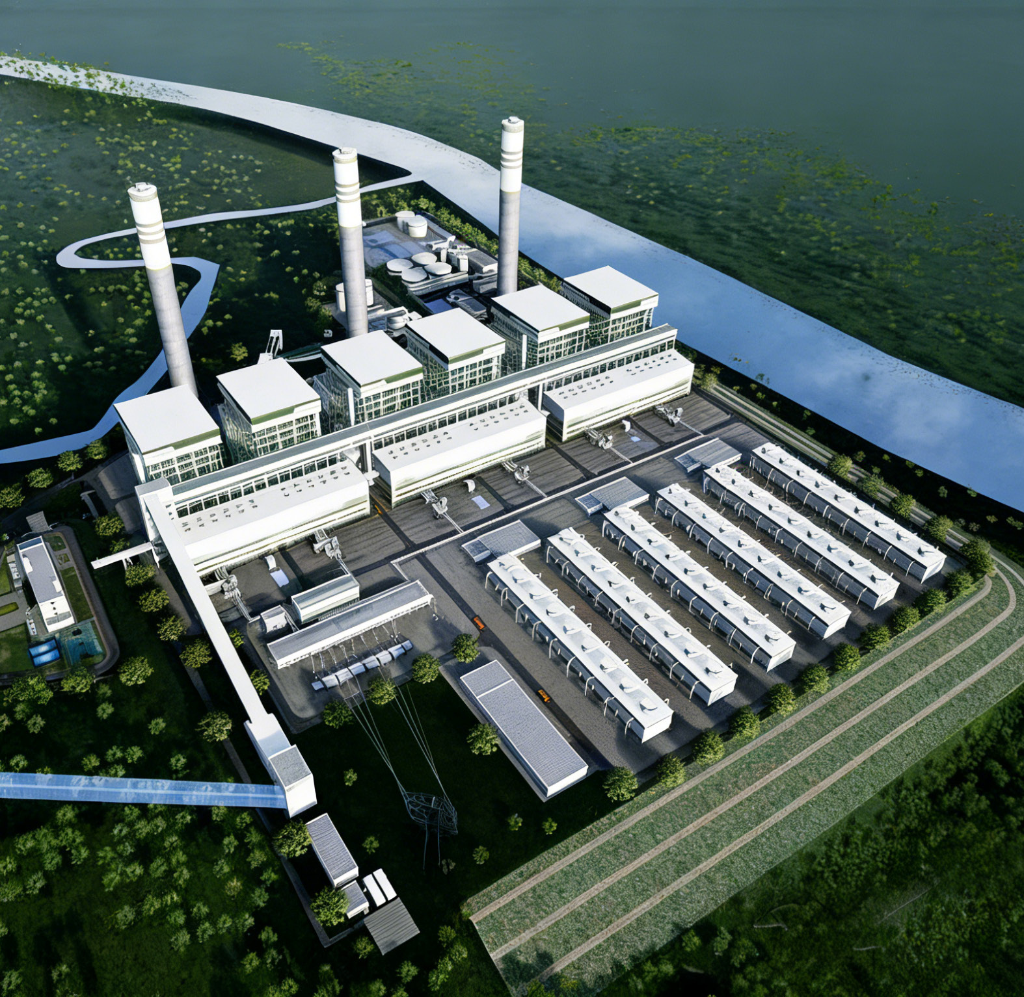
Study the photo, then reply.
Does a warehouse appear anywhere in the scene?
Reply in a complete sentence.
Yes, there's a warehouse down there.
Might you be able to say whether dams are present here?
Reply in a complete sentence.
No, no dam can be seen from above.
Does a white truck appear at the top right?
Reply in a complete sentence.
No, at the top right there is no white truck.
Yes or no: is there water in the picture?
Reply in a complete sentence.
Yes, water can be seen from above here.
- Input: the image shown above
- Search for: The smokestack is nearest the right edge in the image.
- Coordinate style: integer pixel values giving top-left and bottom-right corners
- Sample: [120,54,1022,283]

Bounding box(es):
[497,117,527,298]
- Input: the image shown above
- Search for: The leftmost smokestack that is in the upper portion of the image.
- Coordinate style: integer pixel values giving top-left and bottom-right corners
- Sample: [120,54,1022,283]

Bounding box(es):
[123,183,199,400]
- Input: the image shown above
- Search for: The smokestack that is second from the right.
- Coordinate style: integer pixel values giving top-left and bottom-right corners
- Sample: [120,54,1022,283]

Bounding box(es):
[330,147,370,340]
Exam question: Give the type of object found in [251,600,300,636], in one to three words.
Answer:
house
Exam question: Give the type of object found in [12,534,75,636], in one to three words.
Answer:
building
